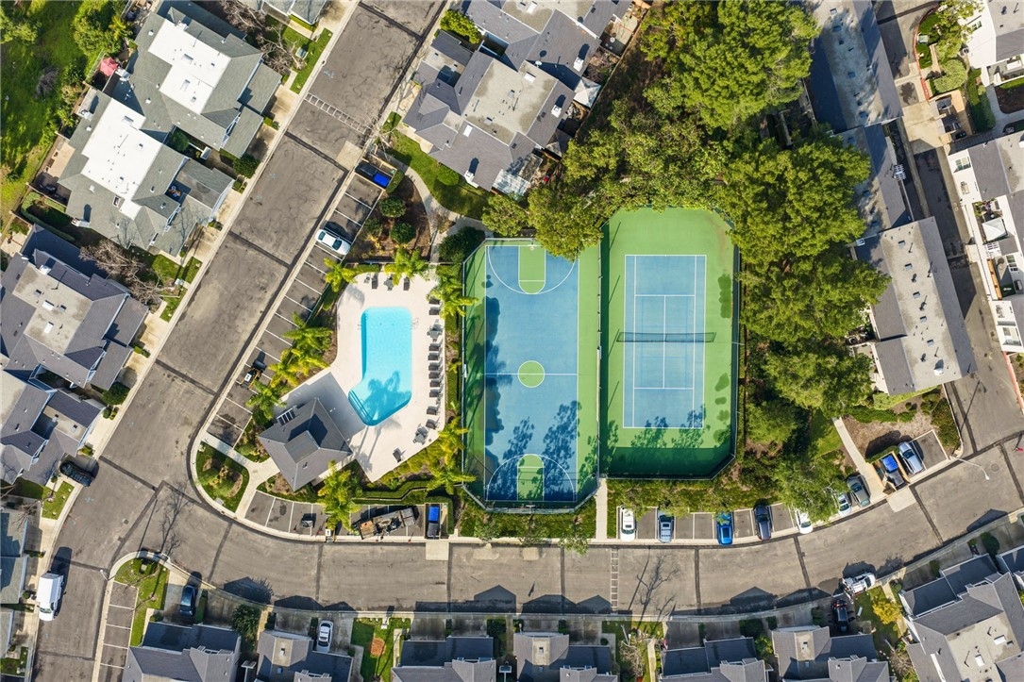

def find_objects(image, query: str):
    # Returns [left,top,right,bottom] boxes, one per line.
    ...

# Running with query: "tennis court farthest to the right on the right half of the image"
[600,207,730,475]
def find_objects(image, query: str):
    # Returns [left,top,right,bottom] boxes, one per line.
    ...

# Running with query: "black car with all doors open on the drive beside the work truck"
[826,596,856,633]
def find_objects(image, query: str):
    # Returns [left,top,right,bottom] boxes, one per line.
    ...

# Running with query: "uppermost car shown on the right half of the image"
[894,440,923,476]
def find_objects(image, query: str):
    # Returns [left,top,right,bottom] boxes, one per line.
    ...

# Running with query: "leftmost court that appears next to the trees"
[465,240,598,507]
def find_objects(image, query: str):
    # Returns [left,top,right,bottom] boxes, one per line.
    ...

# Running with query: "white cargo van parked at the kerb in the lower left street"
[38,571,67,620]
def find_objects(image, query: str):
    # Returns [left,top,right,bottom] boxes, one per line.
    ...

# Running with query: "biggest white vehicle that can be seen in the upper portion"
[313,228,353,256]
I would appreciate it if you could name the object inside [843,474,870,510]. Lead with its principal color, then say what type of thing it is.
gray car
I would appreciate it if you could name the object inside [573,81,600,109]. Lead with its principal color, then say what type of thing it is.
white gazebo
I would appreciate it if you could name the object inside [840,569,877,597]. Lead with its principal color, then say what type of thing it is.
white car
